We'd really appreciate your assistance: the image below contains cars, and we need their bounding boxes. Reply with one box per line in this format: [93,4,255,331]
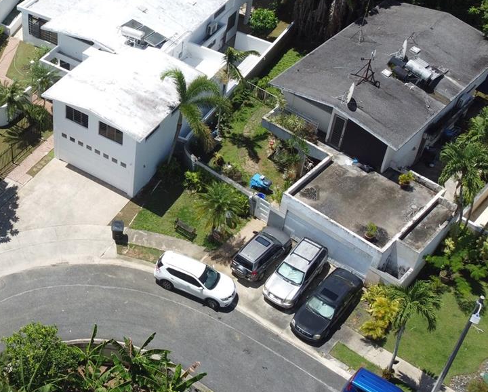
[274,232,339,304]
[336,358,409,392]
[299,263,368,338]
[233,226,297,287]
[152,251,240,313]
